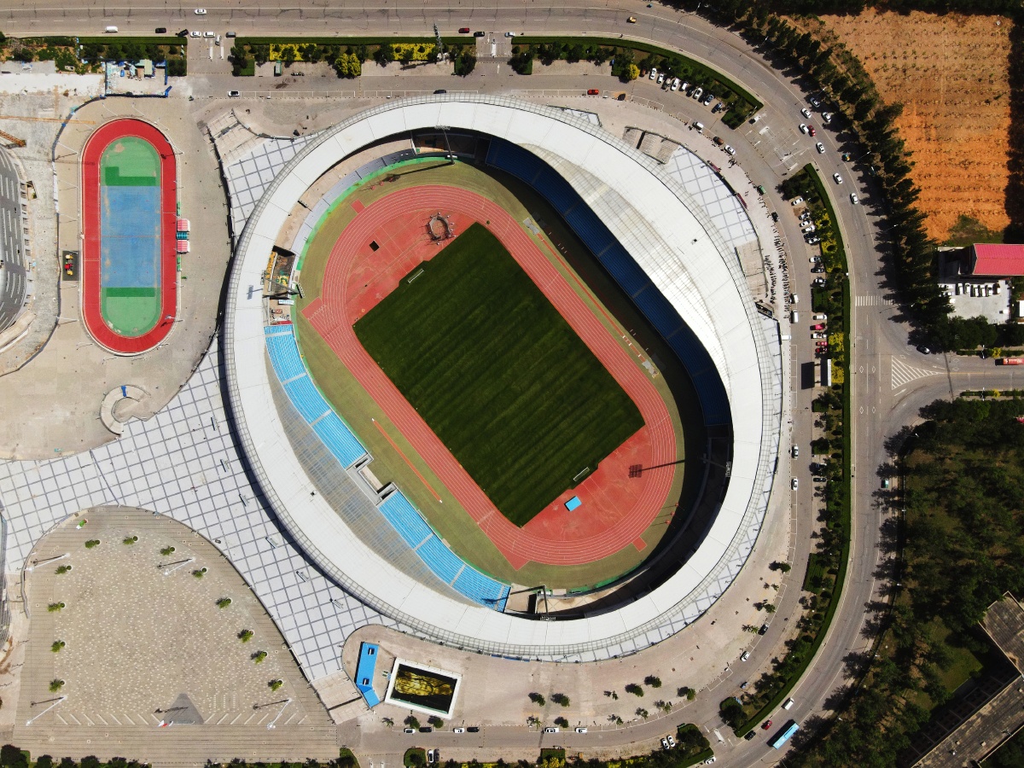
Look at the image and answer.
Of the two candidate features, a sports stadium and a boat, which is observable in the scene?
sports stadium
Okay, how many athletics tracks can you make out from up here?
two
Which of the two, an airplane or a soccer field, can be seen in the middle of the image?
soccer field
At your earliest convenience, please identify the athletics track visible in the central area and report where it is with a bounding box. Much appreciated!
[304,181,677,580]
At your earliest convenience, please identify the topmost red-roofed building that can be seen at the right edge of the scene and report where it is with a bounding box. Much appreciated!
[956,243,1024,278]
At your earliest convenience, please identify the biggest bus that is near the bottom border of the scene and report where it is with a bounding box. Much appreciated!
[772,722,803,752]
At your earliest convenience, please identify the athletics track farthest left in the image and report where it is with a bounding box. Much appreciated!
[79,115,180,357]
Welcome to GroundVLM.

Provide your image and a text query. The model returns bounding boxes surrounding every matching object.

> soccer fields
[354,222,644,526]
